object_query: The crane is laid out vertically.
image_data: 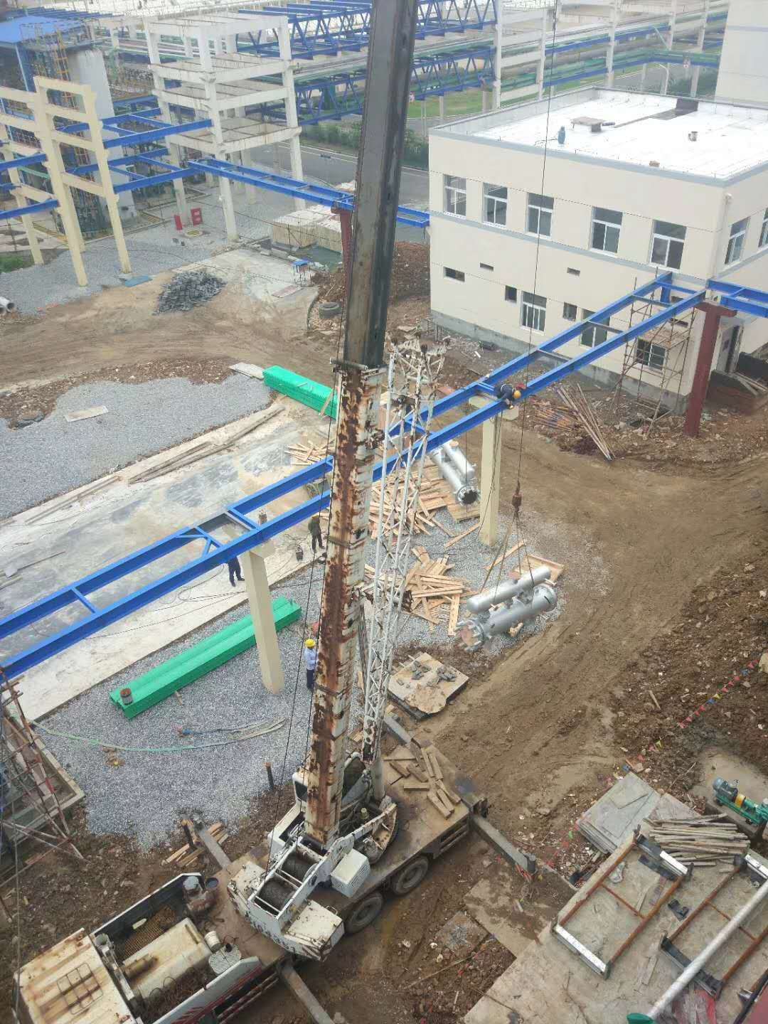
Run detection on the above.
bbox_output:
[17,0,554,1024]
